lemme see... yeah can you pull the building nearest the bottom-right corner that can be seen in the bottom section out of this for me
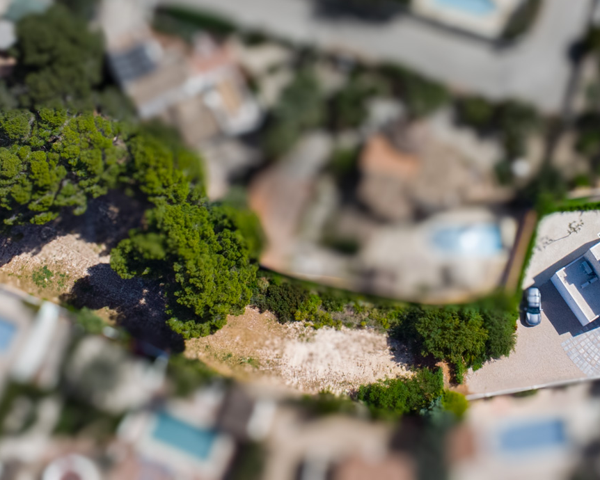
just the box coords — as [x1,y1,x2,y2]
[452,412,487,457]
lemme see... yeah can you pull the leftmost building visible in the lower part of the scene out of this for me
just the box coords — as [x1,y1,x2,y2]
[11,304,76,386]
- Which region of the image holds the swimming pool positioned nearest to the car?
right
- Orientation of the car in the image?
up and down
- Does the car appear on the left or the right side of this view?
right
